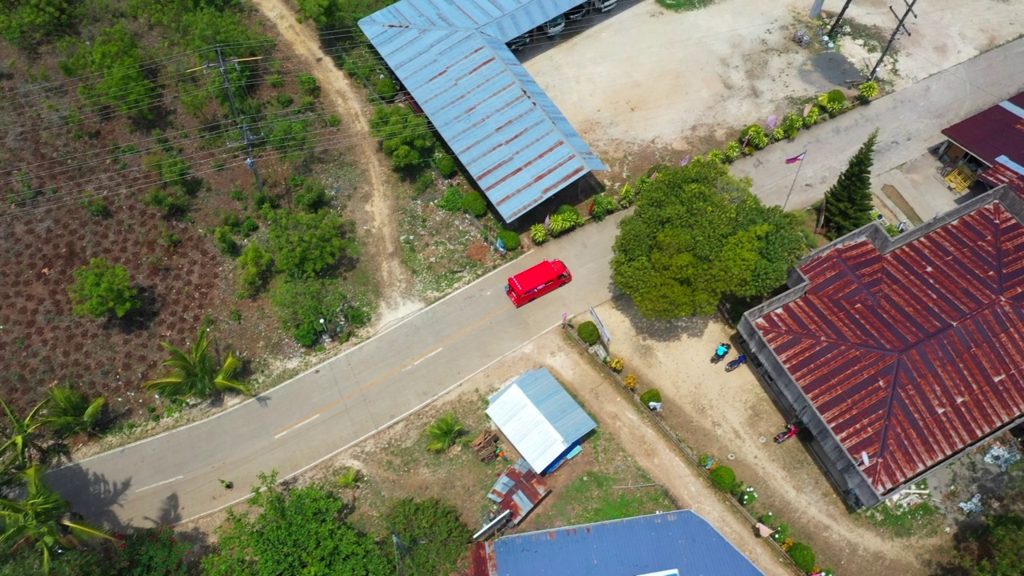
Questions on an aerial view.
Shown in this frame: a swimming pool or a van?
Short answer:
van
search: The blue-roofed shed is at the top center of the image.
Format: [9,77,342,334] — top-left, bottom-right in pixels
[358,0,618,227]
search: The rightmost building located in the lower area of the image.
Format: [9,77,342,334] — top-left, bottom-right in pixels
[734,184,1024,517]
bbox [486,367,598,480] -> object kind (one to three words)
shed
